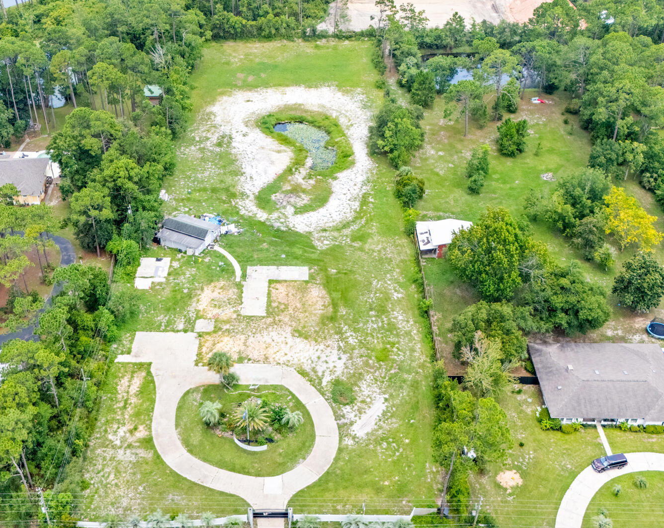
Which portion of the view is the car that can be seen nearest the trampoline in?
bottom right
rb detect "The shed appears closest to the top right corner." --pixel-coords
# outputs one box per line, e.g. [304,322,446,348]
[416,219,472,260]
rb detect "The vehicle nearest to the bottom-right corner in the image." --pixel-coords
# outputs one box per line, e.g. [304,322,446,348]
[589,449,628,471]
